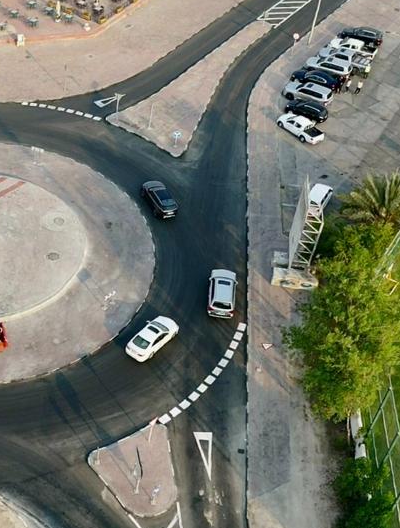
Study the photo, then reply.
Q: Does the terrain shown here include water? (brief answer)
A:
No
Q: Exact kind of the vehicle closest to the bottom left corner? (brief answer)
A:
car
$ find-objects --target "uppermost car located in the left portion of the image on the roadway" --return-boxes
[142,182,177,219]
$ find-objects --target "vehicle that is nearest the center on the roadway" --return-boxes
[206,268,240,320]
